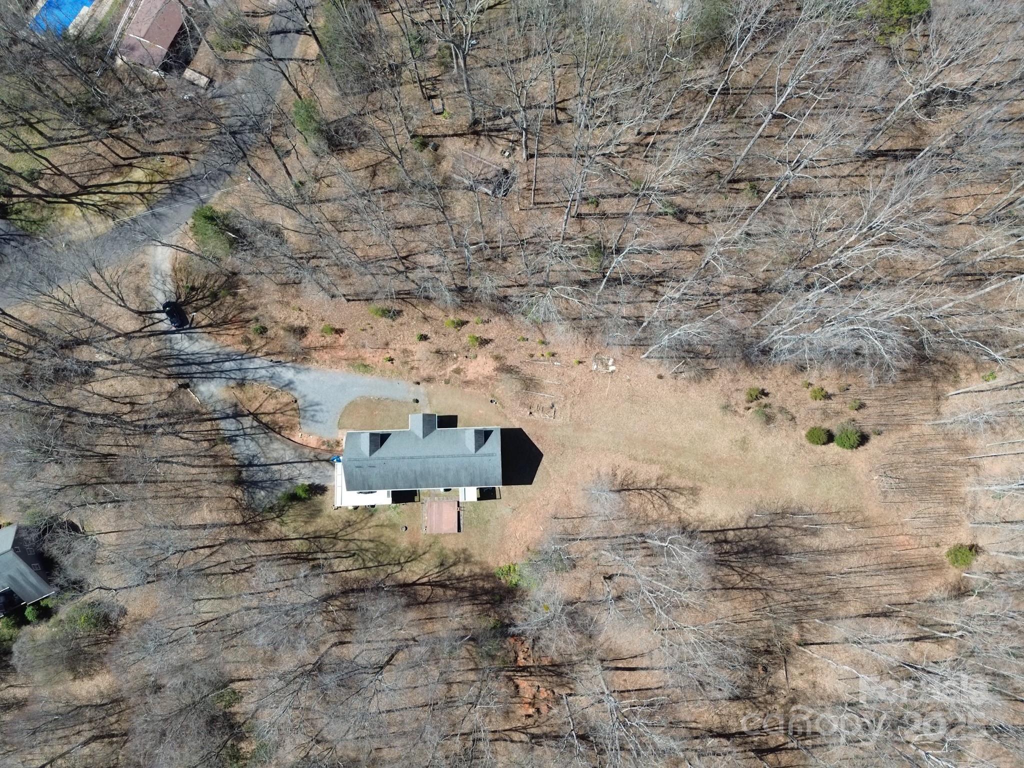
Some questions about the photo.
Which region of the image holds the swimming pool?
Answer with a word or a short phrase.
top left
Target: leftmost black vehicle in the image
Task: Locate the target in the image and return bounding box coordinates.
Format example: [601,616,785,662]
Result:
[161,299,180,327]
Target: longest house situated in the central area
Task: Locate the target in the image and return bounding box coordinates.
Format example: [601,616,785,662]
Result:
[343,413,503,492]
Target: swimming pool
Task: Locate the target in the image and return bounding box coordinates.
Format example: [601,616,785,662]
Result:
[23,0,107,48]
